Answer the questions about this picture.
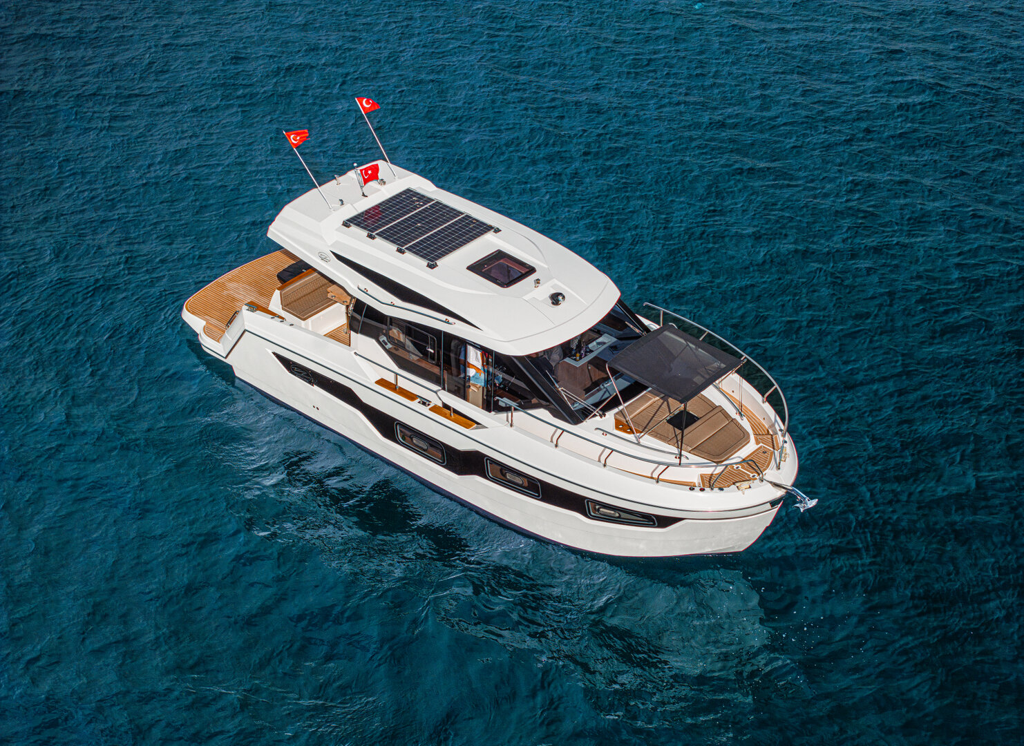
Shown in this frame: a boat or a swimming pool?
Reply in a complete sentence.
Of the two, only a boat appears.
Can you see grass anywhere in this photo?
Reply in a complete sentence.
No, the picture contains no grass.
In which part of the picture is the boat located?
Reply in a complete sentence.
The boat is in the center part of the image.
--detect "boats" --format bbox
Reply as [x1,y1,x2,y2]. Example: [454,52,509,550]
[184,160,818,561]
